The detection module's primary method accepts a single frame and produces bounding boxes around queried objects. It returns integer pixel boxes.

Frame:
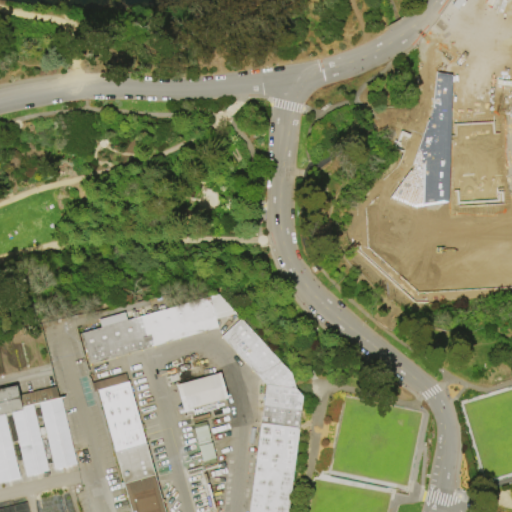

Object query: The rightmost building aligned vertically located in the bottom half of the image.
[222,320,304,512]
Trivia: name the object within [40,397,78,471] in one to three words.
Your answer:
building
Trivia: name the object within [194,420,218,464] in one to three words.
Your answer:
shed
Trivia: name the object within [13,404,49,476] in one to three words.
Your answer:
building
